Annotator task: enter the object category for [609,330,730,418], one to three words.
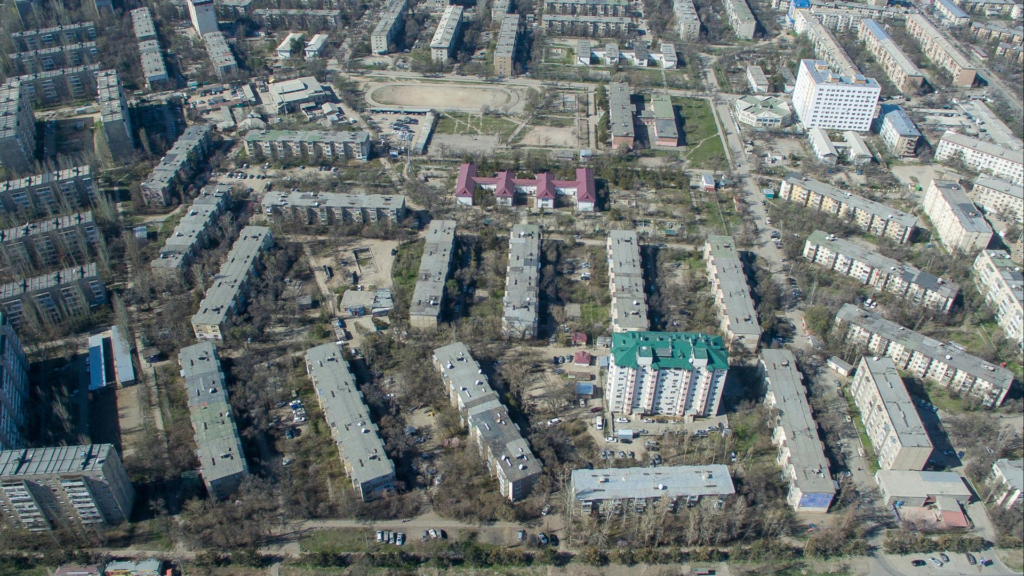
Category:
building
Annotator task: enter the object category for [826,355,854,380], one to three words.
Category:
shed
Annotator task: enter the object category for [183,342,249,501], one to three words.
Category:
building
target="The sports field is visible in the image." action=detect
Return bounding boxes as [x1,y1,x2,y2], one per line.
[372,85,506,105]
